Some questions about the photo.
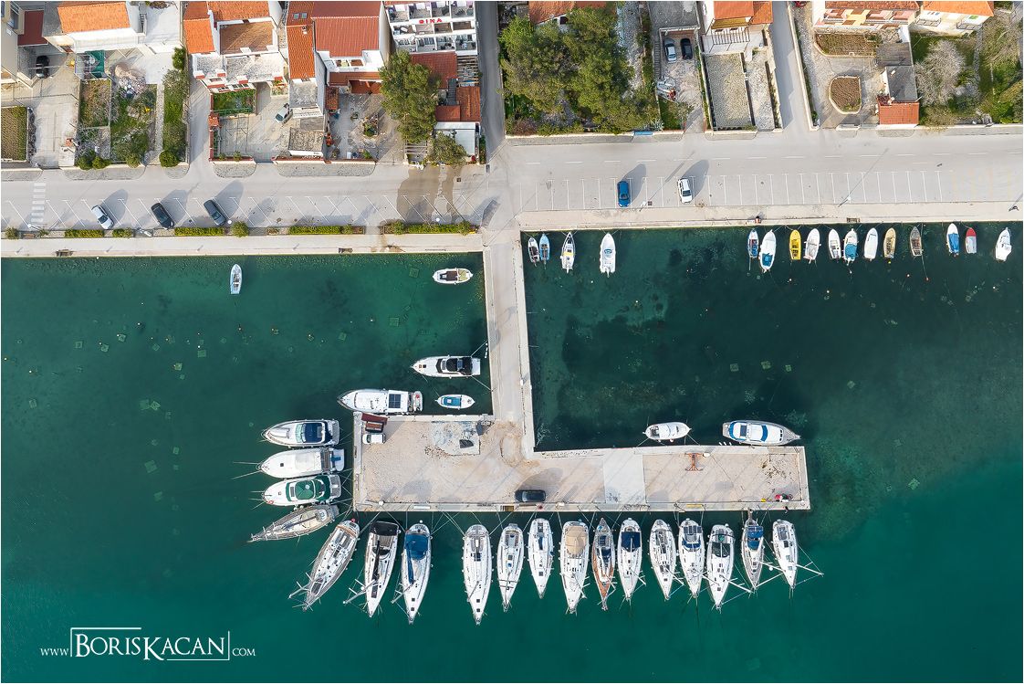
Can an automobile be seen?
Yes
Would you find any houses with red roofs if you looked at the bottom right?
No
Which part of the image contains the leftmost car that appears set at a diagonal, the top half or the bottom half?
top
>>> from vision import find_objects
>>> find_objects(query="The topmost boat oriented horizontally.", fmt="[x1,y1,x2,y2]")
[433,267,472,286]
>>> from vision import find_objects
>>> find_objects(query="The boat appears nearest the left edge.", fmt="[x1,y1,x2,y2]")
[230,264,242,299]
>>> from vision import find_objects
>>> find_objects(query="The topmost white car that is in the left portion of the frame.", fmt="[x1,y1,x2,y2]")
[273,104,292,124]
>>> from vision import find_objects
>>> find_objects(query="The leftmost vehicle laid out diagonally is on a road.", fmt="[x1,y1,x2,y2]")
[88,203,116,231]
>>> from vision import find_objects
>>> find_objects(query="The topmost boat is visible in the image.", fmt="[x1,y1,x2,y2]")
[658,81,679,99]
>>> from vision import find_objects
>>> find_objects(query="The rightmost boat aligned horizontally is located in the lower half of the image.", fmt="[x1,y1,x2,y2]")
[718,420,805,449]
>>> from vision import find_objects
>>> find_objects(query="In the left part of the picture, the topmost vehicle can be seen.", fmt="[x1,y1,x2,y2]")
[36,54,51,80]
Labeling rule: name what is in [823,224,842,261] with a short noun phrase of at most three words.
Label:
boat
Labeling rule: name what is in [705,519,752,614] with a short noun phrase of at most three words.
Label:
boat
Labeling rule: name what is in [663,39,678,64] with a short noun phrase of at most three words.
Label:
car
